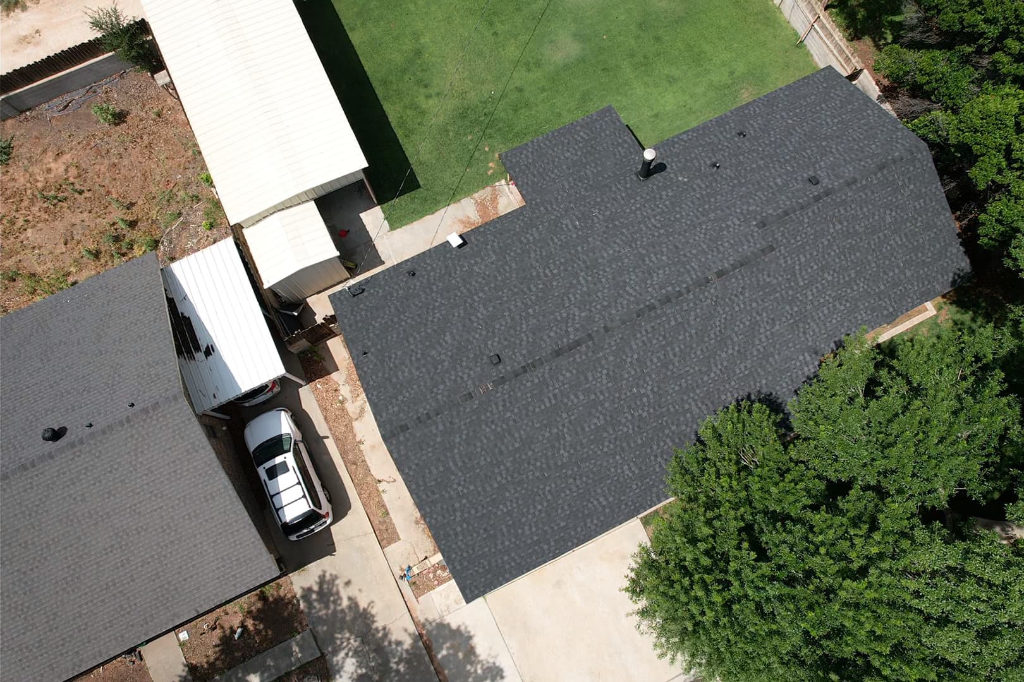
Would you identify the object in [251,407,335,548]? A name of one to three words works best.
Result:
car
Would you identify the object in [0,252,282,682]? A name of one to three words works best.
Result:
house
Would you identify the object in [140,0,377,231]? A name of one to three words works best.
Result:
building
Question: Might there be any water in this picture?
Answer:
No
